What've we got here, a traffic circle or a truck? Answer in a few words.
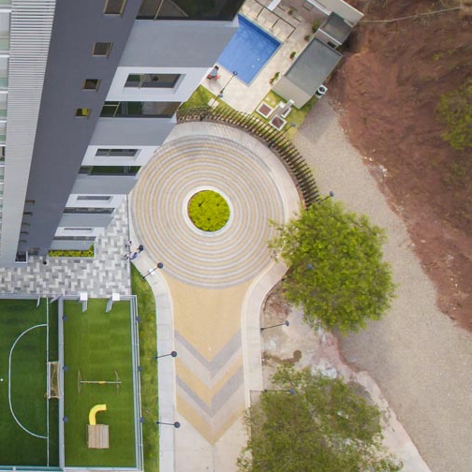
traffic circle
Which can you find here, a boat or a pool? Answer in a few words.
pool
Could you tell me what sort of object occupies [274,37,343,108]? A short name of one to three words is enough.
building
